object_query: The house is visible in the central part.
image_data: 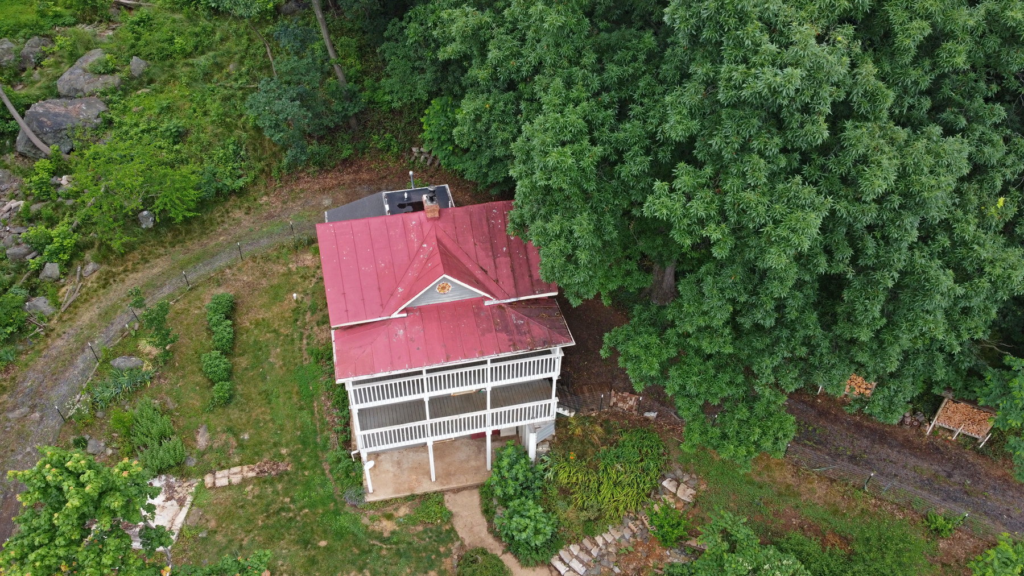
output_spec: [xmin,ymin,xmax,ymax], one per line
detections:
[316,159,578,492]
